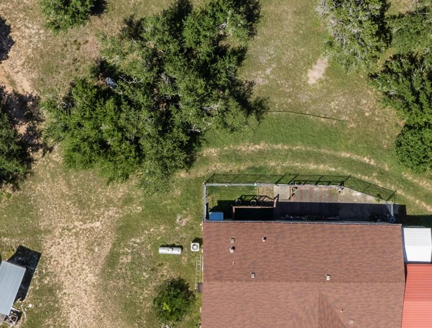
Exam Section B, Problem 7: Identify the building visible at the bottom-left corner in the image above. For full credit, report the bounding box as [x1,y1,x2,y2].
[0,256,30,315]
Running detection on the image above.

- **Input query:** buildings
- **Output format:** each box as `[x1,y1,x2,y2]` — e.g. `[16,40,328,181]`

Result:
[0,256,30,315]
[404,224,432,262]
[201,220,406,328]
